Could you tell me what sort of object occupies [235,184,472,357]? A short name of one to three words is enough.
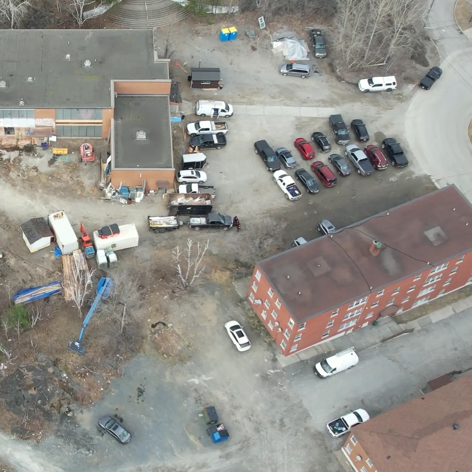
building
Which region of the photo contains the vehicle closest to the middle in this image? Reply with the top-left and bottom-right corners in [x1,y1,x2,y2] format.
[186,214,239,233]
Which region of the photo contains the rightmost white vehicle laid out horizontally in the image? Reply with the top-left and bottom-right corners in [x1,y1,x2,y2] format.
[356,75,400,93]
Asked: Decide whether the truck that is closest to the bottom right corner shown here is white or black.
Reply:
white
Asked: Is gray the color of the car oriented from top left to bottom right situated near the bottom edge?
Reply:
Yes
